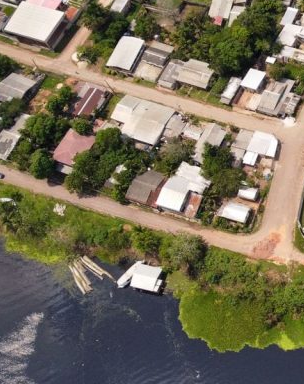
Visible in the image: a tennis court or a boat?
boat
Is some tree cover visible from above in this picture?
Yes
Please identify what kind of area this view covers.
residential area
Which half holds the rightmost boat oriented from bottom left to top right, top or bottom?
bottom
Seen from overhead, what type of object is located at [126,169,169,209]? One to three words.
house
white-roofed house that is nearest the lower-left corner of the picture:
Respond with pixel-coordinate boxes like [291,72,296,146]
[129,264,165,295]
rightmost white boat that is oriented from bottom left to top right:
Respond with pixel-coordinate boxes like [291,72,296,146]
[118,261,146,288]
